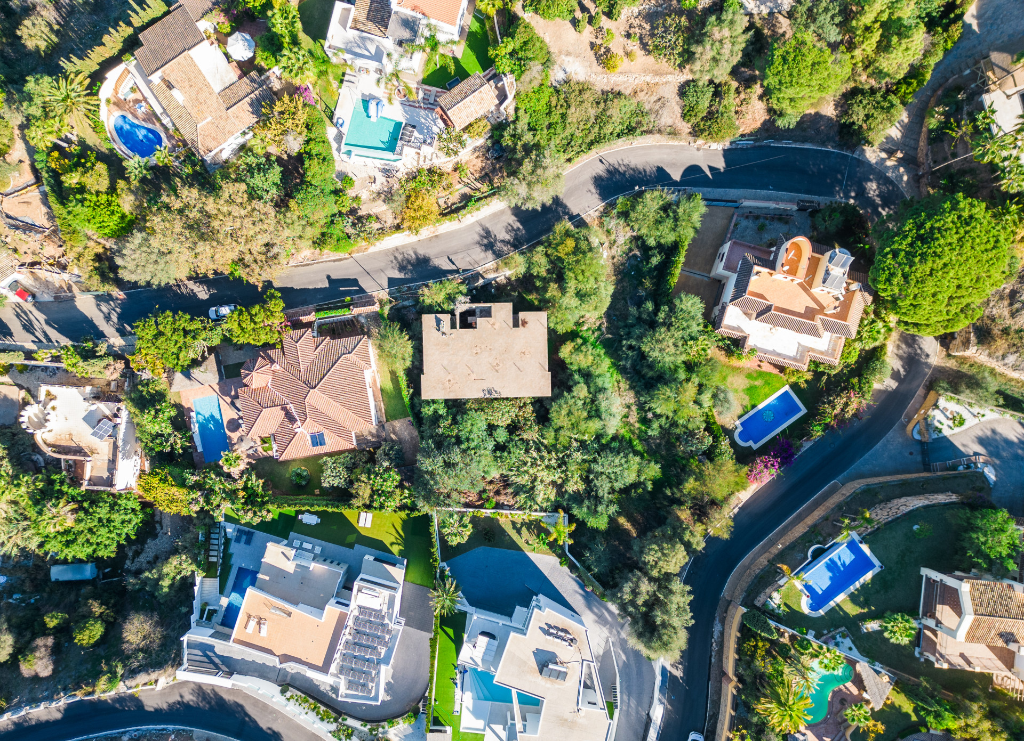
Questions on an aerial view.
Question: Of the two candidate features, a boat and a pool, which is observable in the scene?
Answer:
pool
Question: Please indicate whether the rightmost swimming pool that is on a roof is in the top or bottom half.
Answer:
bottom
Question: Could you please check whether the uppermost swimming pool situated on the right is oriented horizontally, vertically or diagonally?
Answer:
diagonally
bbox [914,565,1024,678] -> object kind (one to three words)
house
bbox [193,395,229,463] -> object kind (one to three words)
swimming pool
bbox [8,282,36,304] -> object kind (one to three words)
car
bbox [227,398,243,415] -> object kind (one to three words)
umbrella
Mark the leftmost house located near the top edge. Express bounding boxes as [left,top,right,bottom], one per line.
[134,0,278,176]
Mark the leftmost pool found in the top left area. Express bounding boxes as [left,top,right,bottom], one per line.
[110,110,167,163]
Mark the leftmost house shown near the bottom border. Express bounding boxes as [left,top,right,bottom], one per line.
[230,532,413,705]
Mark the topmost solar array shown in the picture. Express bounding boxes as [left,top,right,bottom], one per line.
[88,415,121,444]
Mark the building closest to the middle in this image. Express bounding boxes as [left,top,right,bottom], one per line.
[421,303,551,399]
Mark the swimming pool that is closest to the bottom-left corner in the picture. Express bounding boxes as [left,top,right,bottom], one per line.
[221,567,258,631]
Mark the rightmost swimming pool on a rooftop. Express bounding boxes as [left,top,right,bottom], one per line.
[461,664,539,705]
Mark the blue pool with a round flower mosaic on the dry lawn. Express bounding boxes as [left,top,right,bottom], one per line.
[732,384,809,450]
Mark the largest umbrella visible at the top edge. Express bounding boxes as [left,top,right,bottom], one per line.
[226,31,257,62]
